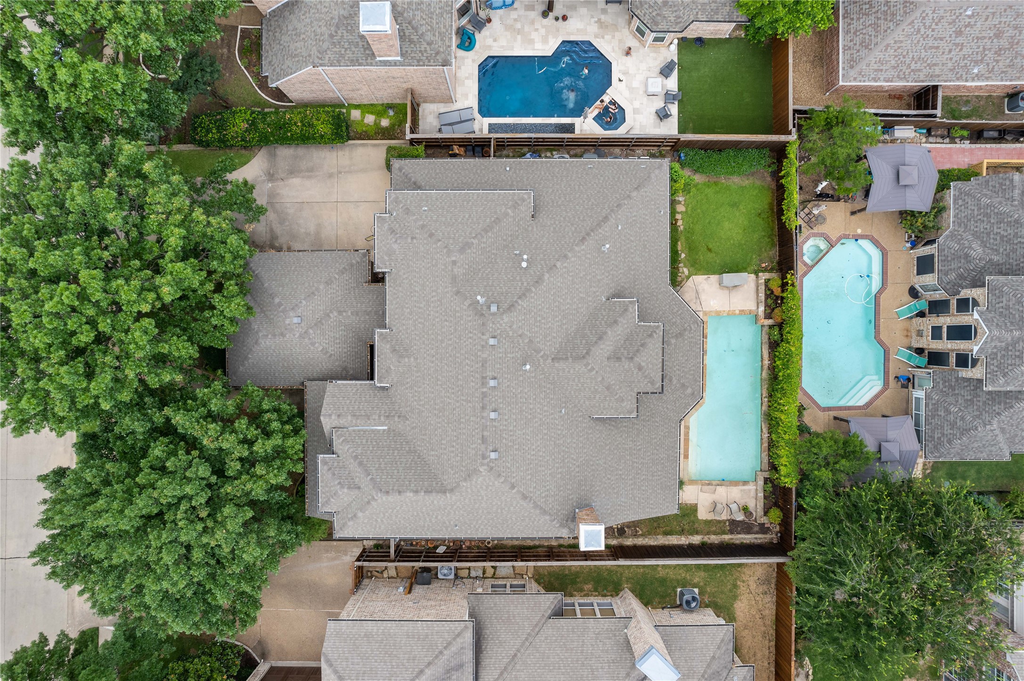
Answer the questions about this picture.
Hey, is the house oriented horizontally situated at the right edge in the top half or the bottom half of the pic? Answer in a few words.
top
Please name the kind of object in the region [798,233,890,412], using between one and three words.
swimming pool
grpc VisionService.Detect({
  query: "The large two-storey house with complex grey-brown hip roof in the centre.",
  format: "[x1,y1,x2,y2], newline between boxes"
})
[224,156,706,550]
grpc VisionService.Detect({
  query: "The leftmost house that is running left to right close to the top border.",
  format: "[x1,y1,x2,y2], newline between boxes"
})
[250,0,473,106]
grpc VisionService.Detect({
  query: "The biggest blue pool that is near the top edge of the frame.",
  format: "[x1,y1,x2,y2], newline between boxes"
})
[473,34,617,122]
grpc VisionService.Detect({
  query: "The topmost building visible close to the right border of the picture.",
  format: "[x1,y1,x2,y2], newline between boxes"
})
[823,0,1024,97]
